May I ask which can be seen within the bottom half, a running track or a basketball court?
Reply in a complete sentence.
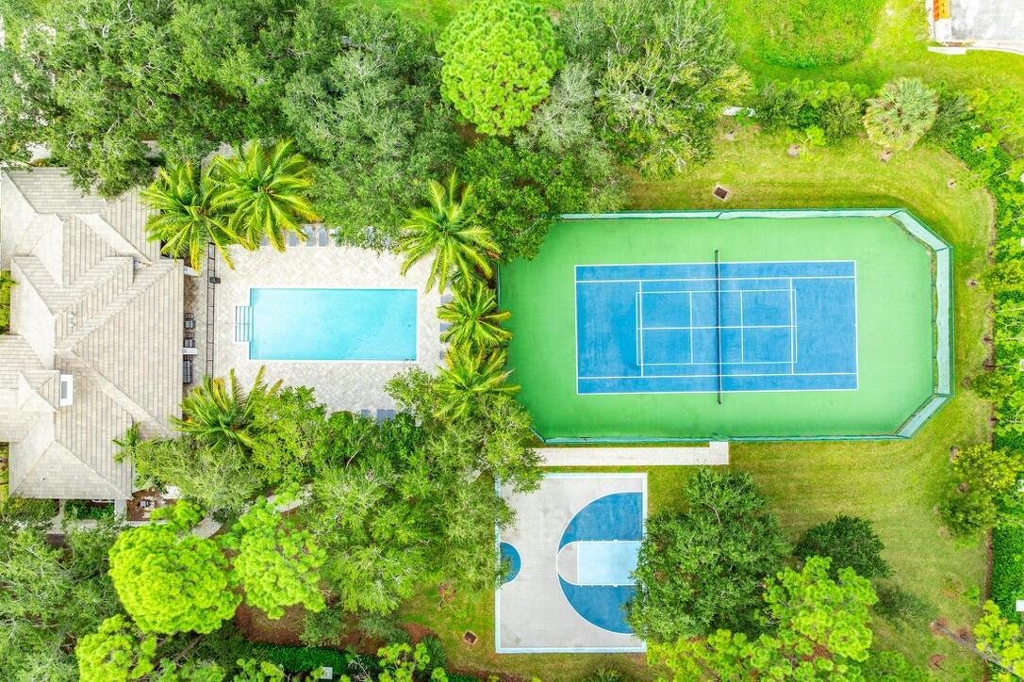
You can see a basketball court within the bottom half.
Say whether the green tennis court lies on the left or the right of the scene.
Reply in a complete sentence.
The green tennis court is on the right side of the image.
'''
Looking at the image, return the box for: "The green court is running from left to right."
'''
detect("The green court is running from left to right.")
[499,217,931,437]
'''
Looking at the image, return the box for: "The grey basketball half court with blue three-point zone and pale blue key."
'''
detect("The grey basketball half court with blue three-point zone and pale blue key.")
[496,473,647,654]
